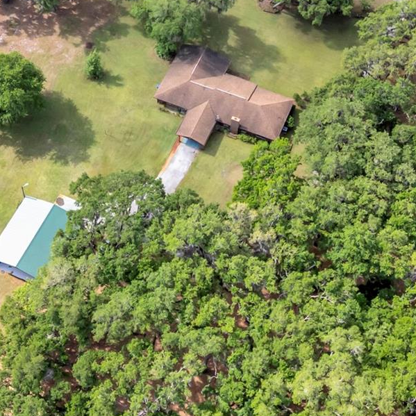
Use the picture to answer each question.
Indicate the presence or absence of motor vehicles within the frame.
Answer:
No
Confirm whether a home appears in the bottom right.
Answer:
No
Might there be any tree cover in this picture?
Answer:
Yes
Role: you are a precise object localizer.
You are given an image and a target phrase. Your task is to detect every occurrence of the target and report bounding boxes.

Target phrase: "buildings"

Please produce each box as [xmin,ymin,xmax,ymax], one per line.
[0,198,81,290]
[153,46,294,153]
